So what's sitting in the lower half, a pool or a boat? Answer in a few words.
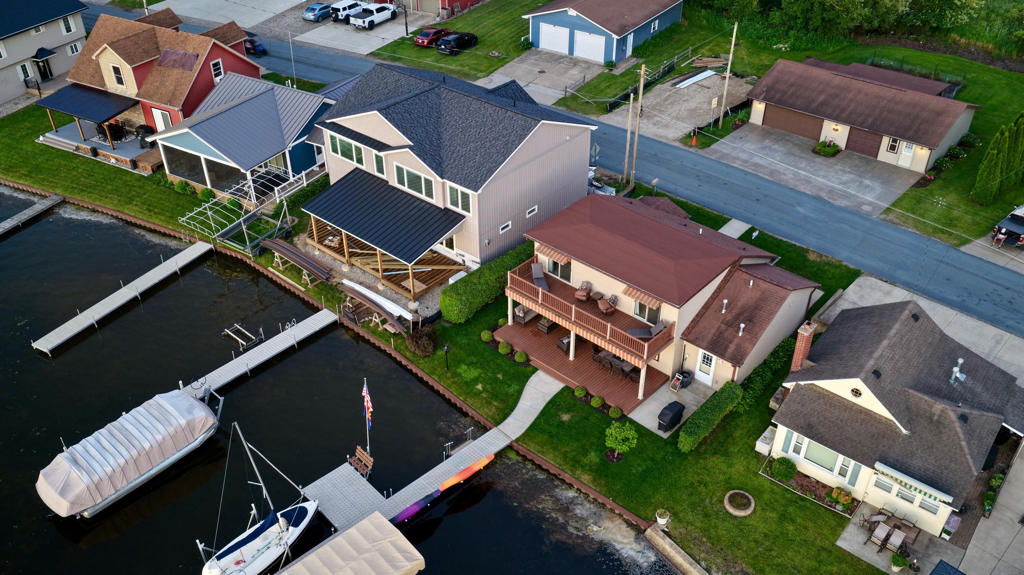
boat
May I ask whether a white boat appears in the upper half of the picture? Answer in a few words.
No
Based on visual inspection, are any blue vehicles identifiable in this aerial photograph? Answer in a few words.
Yes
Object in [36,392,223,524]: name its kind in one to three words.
boat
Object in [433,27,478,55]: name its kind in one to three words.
car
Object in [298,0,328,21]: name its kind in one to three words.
car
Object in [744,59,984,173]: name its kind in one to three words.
building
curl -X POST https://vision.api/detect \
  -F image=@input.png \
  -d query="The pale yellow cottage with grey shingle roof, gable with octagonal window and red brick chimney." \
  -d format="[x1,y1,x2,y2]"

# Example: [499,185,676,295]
[770,299,1024,537]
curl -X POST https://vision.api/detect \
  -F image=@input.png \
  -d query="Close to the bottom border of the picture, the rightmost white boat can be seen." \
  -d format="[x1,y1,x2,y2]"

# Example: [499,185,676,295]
[196,422,320,575]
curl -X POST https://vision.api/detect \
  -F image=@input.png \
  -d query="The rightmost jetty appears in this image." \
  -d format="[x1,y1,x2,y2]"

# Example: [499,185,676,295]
[295,428,509,536]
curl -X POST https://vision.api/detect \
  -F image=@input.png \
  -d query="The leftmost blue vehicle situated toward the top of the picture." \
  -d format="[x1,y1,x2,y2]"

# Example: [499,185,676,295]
[252,30,271,57]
